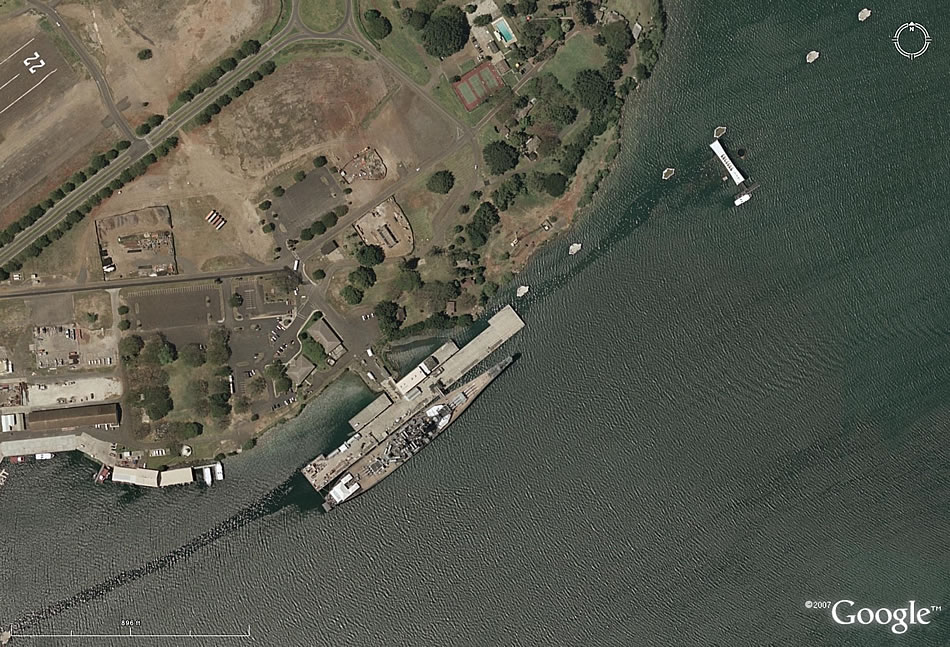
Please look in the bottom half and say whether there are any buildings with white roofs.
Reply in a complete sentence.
Yes, looking in the bottom half, one can make out a building with a white roof.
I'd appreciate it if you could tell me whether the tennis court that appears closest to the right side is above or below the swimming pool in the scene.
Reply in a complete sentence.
The tennis court that appears closest to the right side is below the swimming pool.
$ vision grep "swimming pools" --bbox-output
[492,17,517,47]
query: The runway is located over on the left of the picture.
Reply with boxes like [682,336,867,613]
[0,25,81,123]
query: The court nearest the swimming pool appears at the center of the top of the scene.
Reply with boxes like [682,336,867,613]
[453,61,506,110]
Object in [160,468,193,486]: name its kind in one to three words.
building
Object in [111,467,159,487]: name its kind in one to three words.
building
